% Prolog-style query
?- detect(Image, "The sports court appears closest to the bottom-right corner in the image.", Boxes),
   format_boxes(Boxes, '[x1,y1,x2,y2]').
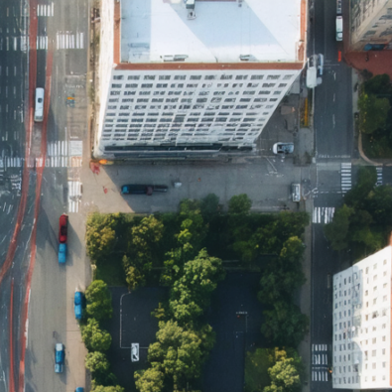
[216,265,262,392]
